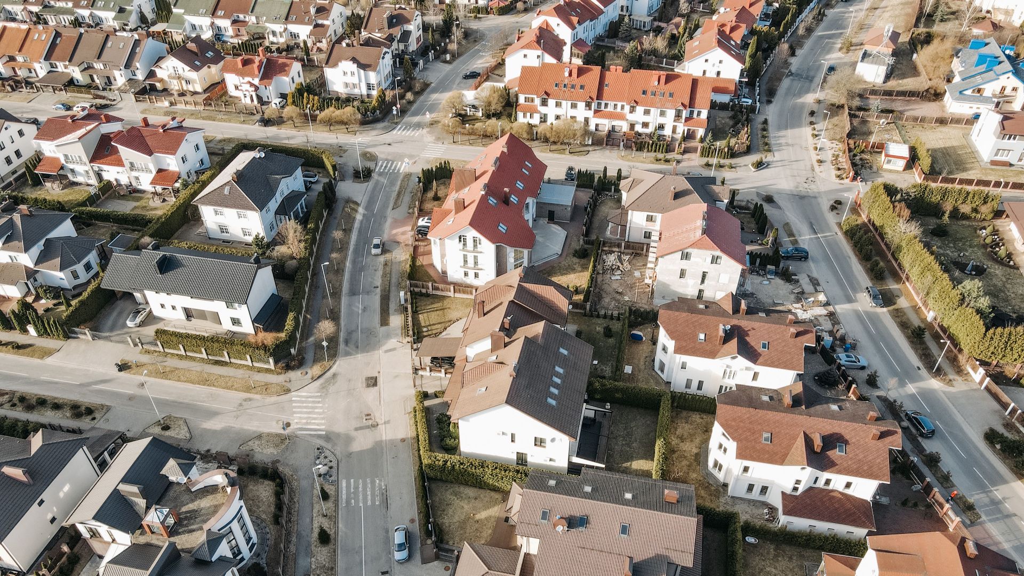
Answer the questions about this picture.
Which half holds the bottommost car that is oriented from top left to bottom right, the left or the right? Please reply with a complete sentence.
The bottommost car that is oriented from top left to bottom right sits on the right side.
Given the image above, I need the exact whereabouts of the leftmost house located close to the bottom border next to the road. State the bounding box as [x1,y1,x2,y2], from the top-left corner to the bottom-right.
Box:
[0,405,104,571]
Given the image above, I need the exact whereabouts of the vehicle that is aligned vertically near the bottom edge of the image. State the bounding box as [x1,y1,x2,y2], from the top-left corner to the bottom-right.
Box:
[390,520,410,562]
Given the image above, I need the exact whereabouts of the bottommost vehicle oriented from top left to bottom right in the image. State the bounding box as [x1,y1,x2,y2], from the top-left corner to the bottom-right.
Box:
[905,405,942,437]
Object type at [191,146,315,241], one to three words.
house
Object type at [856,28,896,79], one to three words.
building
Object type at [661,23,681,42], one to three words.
gazebo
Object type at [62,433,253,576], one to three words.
house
